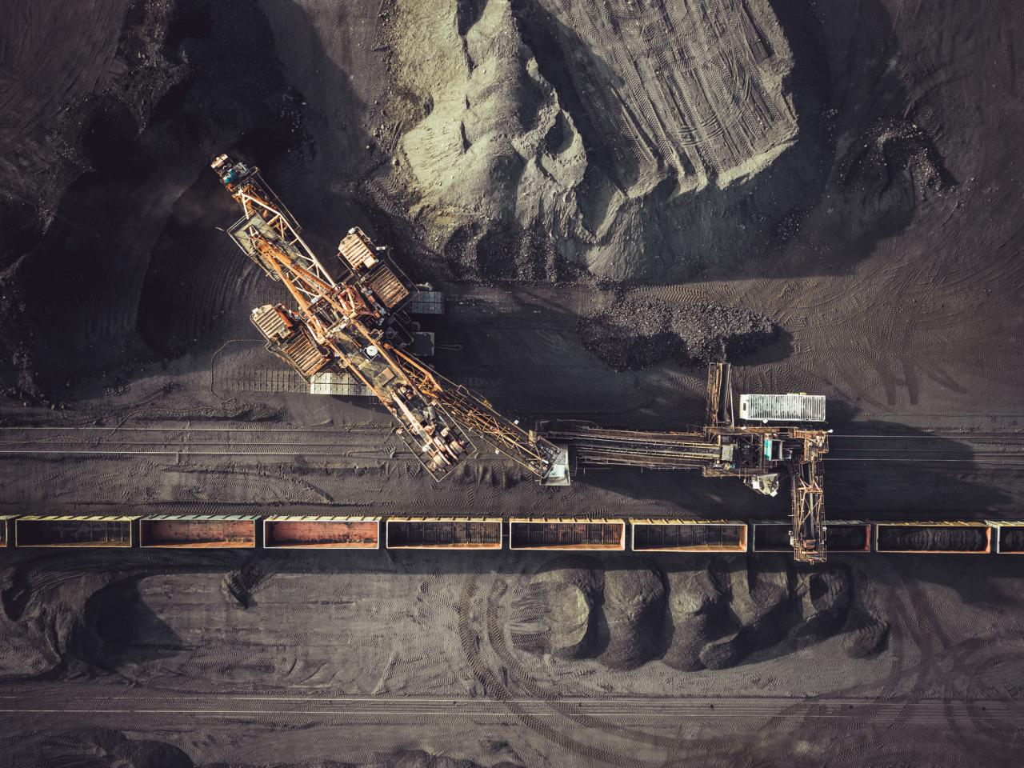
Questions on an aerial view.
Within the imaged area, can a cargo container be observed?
Yes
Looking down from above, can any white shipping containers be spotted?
Yes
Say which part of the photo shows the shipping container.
right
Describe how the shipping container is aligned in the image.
from side to side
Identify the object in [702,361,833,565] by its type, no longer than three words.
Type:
work vehicle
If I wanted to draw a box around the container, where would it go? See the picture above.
[733,391,827,425]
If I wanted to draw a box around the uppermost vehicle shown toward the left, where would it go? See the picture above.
[210,154,561,482]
